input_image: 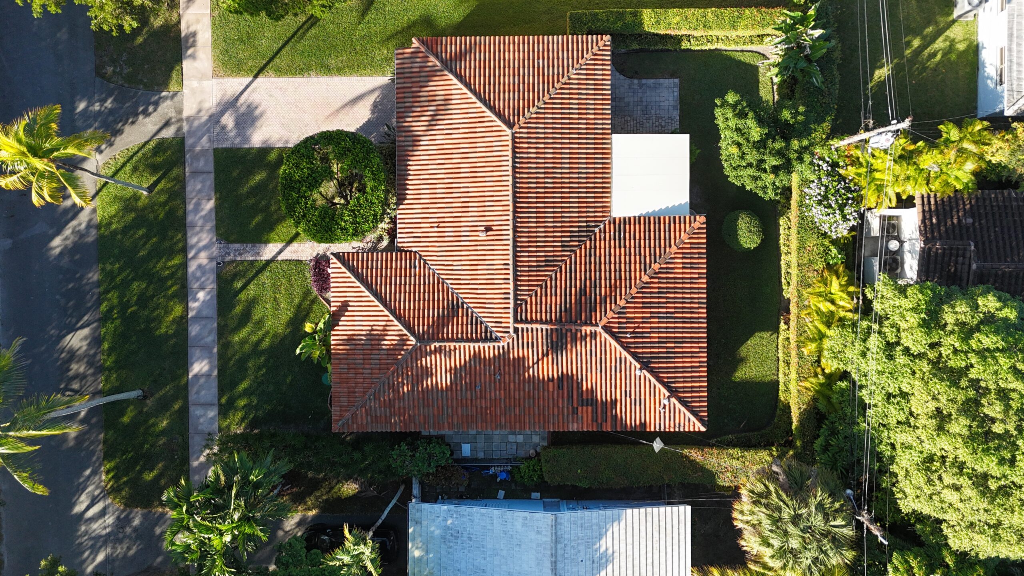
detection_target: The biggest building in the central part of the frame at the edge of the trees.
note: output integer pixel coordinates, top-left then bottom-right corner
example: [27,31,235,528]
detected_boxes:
[328,33,709,434]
